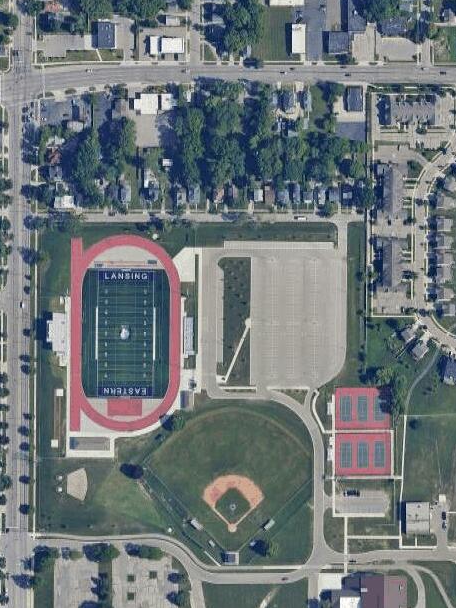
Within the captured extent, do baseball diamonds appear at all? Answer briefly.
Yes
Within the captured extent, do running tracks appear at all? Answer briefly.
Yes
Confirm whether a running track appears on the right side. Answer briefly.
No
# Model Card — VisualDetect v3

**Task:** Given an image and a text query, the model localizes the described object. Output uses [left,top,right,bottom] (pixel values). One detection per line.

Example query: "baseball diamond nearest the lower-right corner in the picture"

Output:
[149,406,311,553]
